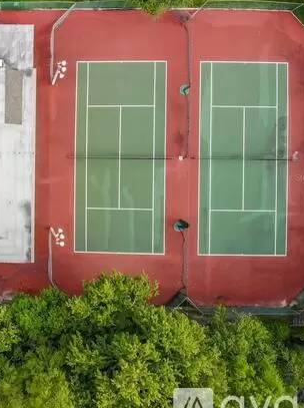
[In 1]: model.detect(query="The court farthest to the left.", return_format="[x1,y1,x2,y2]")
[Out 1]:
[75,61,165,254]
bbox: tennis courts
[197,62,289,255]
[75,61,165,254]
